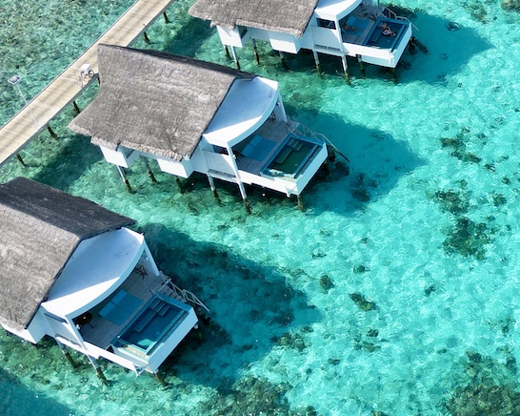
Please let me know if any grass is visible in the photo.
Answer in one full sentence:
No, the picture contains no grass.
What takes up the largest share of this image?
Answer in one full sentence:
Most of the picture is covered by water.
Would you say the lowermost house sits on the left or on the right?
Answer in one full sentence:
The lowermost house sits on the left side.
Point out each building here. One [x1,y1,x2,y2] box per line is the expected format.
[71,40,344,200]
[189,0,427,71]
[0,172,221,378]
